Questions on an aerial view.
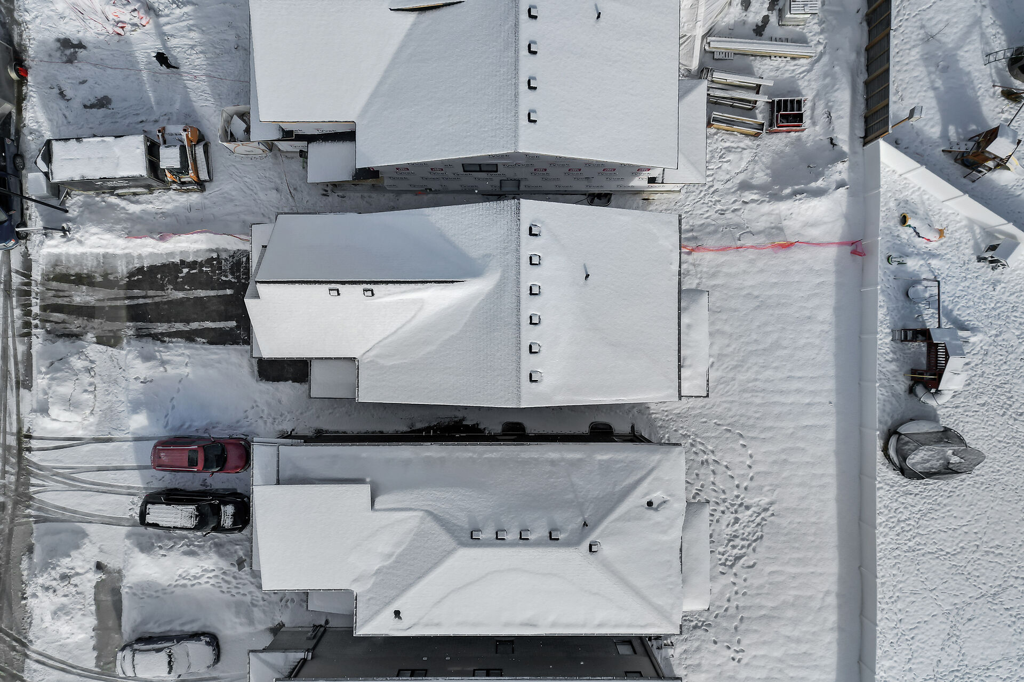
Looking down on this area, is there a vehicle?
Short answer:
Yes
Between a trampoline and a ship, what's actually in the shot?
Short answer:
trampoline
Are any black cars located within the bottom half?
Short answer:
Yes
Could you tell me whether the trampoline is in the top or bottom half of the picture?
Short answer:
bottom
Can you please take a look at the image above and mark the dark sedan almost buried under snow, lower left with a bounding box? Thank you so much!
[119,631,220,678]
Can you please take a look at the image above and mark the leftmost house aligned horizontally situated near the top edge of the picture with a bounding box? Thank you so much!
[249,0,707,193]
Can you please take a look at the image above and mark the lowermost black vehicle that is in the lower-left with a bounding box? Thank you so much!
[139,488,250,538]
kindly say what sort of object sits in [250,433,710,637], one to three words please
house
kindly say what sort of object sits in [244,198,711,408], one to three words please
house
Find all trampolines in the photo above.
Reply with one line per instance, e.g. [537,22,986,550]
[886,416,986,483]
